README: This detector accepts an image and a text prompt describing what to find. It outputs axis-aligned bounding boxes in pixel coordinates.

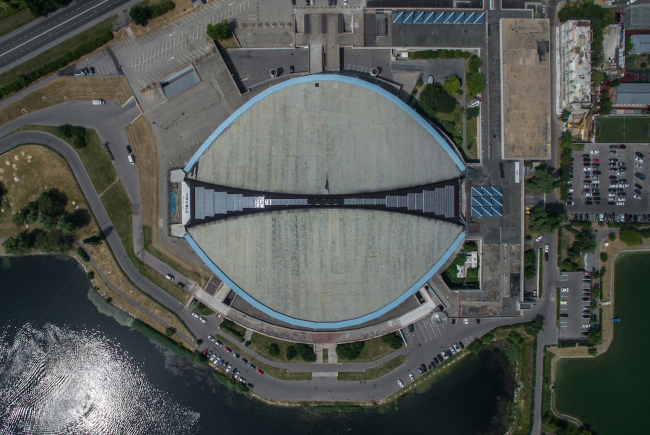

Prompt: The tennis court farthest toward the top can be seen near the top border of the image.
[621,2,650,31]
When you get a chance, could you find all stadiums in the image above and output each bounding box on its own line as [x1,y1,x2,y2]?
[171,74,468,329]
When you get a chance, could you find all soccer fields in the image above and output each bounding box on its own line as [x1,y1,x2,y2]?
[593,114,650,143]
